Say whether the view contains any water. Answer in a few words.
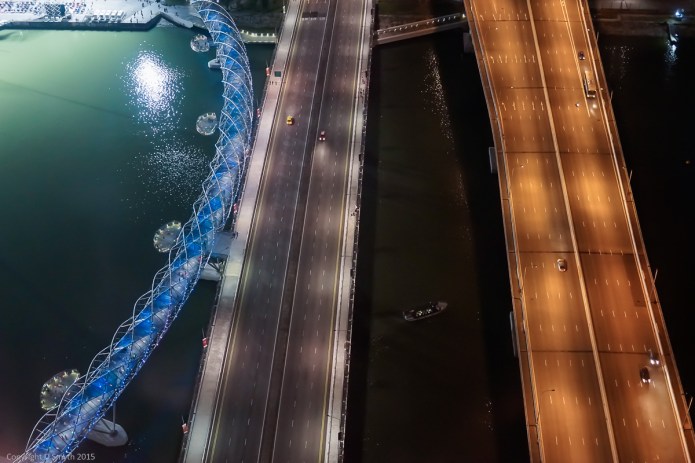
Yes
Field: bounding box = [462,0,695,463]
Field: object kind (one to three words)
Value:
bridge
